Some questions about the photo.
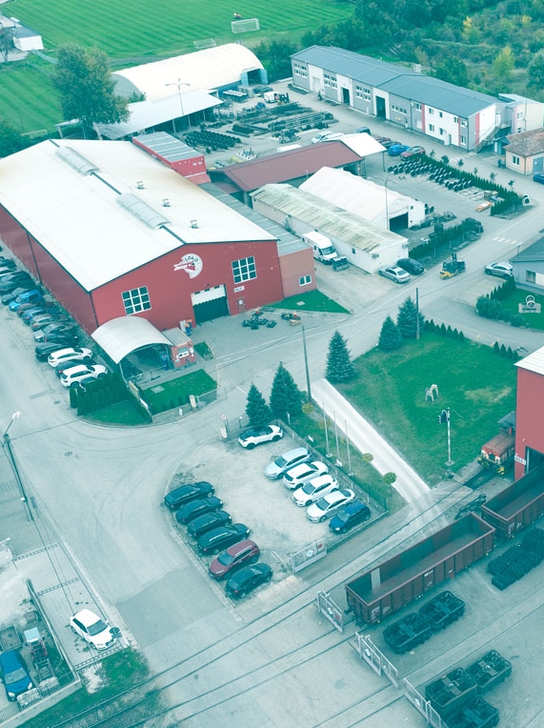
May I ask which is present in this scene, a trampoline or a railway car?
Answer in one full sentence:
Looking from above, you can make out a railway car.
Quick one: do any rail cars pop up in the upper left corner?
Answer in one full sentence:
No, there's no rail car to be seen in the upper left corner.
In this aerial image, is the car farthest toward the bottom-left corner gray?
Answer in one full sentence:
No, from above the car farthest toward the bottom-left corner looks blue.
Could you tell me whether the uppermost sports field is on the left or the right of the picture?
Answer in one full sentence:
You can find the uppermost sports field on the left side of the picture.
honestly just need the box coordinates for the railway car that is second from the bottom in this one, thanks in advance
[481,460,544,545]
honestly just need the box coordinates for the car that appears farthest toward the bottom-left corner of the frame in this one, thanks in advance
[0,643,32,699]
